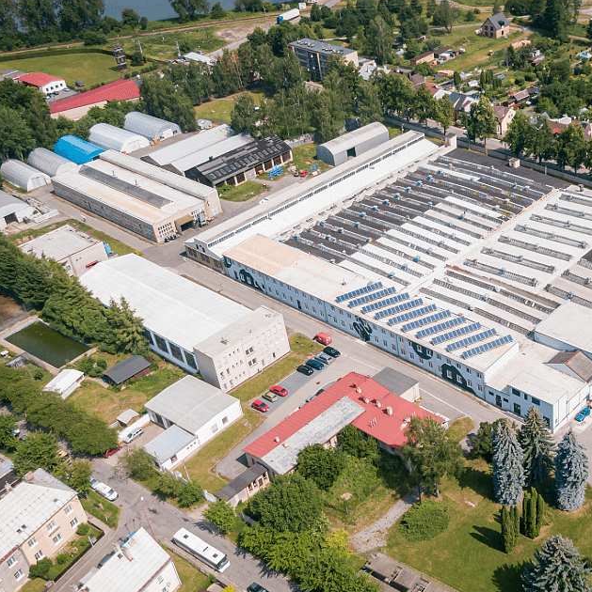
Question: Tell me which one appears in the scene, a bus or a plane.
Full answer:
Looking from above, you can make out a bus.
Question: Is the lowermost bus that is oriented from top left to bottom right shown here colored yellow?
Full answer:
No, the lowermost bus that is oriented from top left to bottom right is white.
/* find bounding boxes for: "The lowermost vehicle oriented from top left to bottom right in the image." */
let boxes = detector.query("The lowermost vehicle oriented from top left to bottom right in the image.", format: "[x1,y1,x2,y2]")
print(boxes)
[168,524,234,577]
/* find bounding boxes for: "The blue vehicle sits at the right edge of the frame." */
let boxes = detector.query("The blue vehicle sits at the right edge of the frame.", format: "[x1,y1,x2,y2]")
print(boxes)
[572,406,592,423]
